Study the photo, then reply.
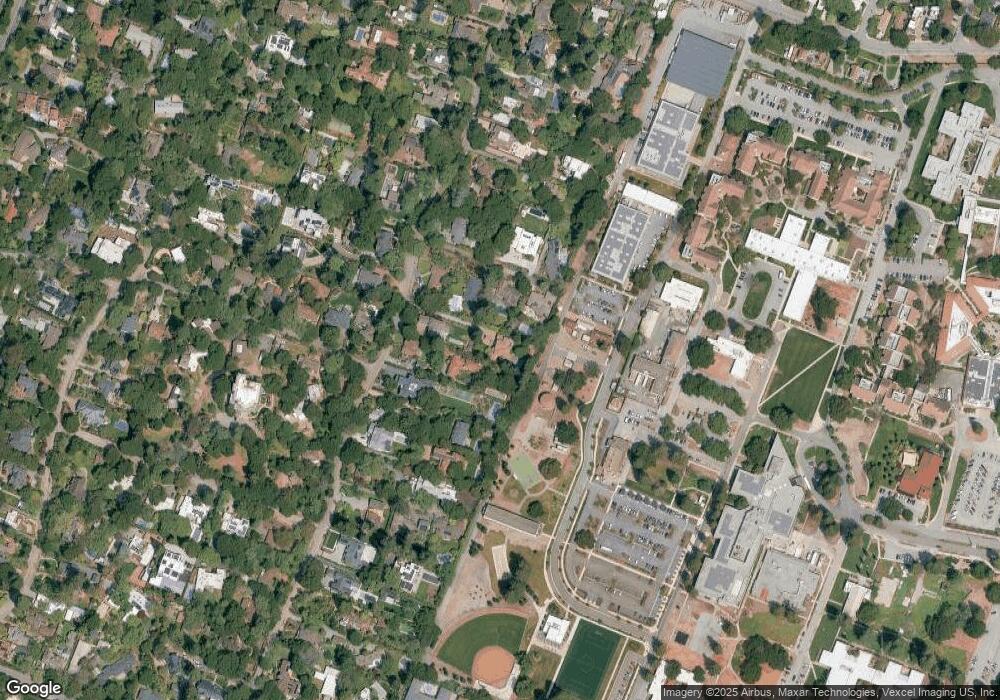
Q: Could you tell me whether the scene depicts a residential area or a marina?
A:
residential area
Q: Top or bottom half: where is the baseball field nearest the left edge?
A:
bottom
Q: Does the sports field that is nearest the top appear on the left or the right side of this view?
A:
right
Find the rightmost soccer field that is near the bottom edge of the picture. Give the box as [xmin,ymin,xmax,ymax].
[551,618,620,700]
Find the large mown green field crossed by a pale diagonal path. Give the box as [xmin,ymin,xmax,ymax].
[759,329,838,423]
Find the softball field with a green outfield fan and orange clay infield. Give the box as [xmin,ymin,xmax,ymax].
[432,606,536,700]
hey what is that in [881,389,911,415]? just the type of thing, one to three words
building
